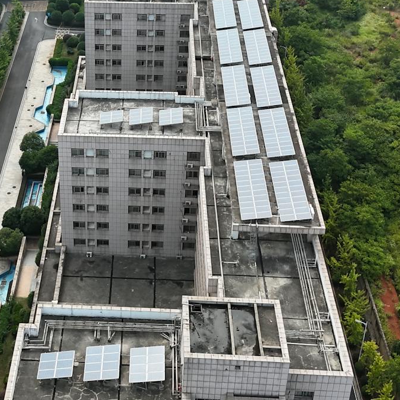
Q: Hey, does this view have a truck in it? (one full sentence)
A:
No, the picture doesn't show any truck.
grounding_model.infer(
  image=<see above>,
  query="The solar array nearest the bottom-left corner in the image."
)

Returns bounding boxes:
[38,352,74,388]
